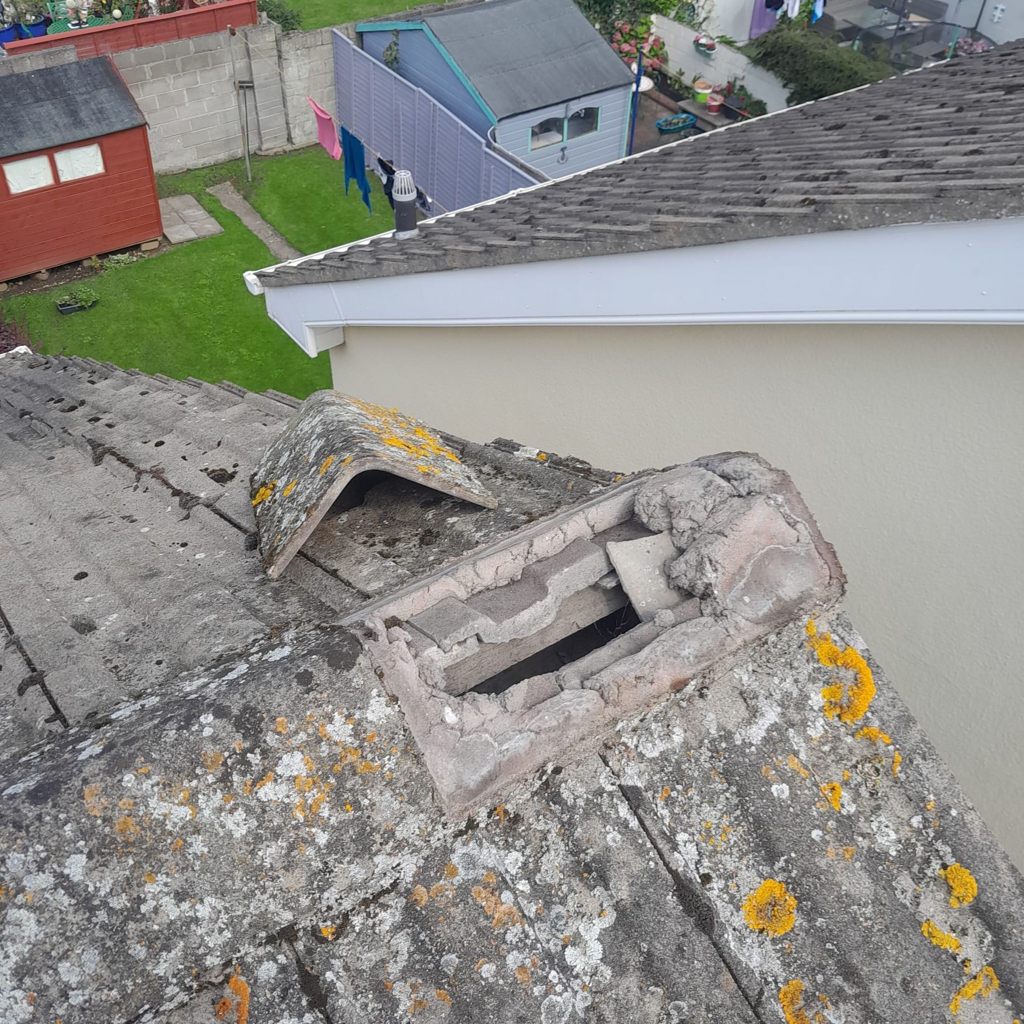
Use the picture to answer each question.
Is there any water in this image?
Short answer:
No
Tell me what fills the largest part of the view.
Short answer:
buildings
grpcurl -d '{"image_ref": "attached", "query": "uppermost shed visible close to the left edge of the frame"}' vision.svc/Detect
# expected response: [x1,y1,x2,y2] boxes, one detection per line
[0,53,166,281]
